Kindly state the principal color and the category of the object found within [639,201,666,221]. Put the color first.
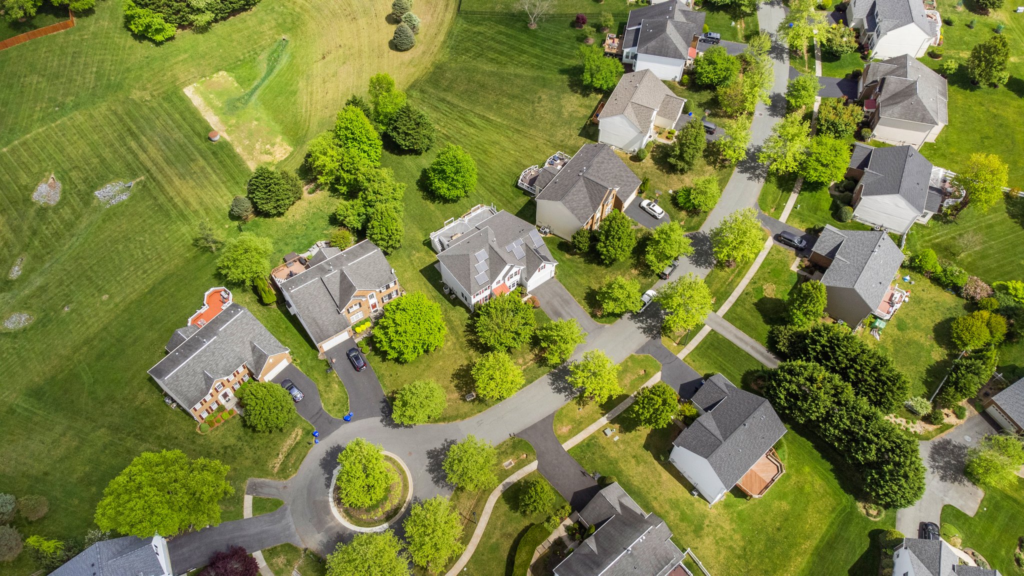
white car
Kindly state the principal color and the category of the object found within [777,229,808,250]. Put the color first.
gray car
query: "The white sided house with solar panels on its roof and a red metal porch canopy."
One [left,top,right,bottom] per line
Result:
[436,206,561,313]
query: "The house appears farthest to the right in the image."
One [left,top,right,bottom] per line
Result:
[986,374,1024,446]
